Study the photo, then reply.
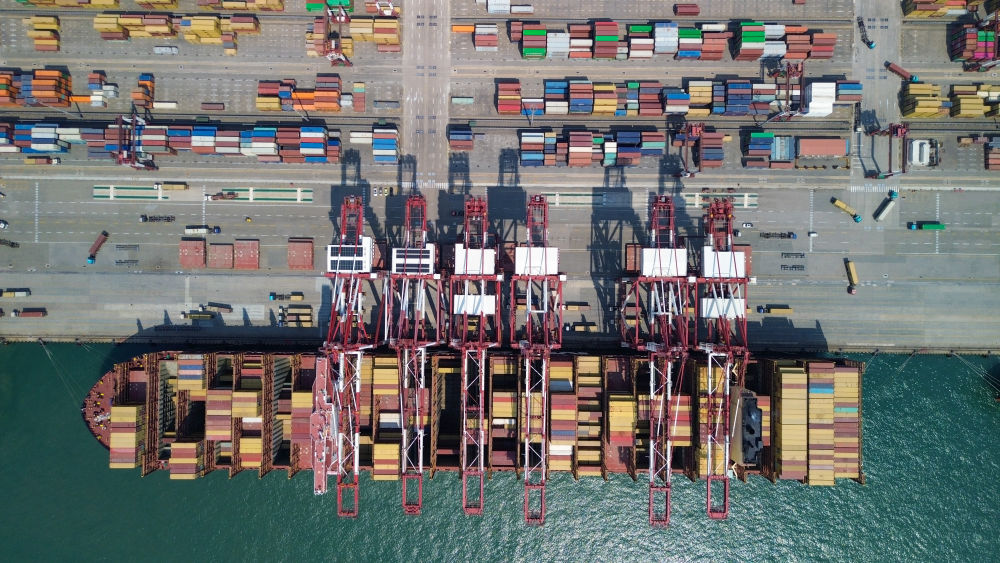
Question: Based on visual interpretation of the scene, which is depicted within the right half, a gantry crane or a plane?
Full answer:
Visible within the right half is a gantry crane.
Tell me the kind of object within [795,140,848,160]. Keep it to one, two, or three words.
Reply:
building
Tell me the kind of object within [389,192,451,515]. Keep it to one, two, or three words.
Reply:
container crane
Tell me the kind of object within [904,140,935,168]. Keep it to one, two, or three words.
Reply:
shed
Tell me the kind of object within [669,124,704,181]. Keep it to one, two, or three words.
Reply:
container crane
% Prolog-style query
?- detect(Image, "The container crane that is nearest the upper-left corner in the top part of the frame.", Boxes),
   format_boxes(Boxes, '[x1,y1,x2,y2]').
[117,115,163,175]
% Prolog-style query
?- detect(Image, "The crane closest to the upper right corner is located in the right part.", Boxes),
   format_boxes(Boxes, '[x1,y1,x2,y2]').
[958,8,1000,75]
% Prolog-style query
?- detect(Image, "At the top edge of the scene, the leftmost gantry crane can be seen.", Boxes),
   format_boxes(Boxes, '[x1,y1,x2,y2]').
[323,3,355,70]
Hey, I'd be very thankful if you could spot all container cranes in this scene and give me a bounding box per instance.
[673,196,756,518]
[117,115,163,175]
[958,8,1000,75]
[323,3,355,70]
[448,193,509,516]
[389,192,451,515]
[505,194,571,526]
[764,62,805,125]
[324,191,397,515]
[613,195,697,528]
[669,124,704,181]
[859,124,906,182]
